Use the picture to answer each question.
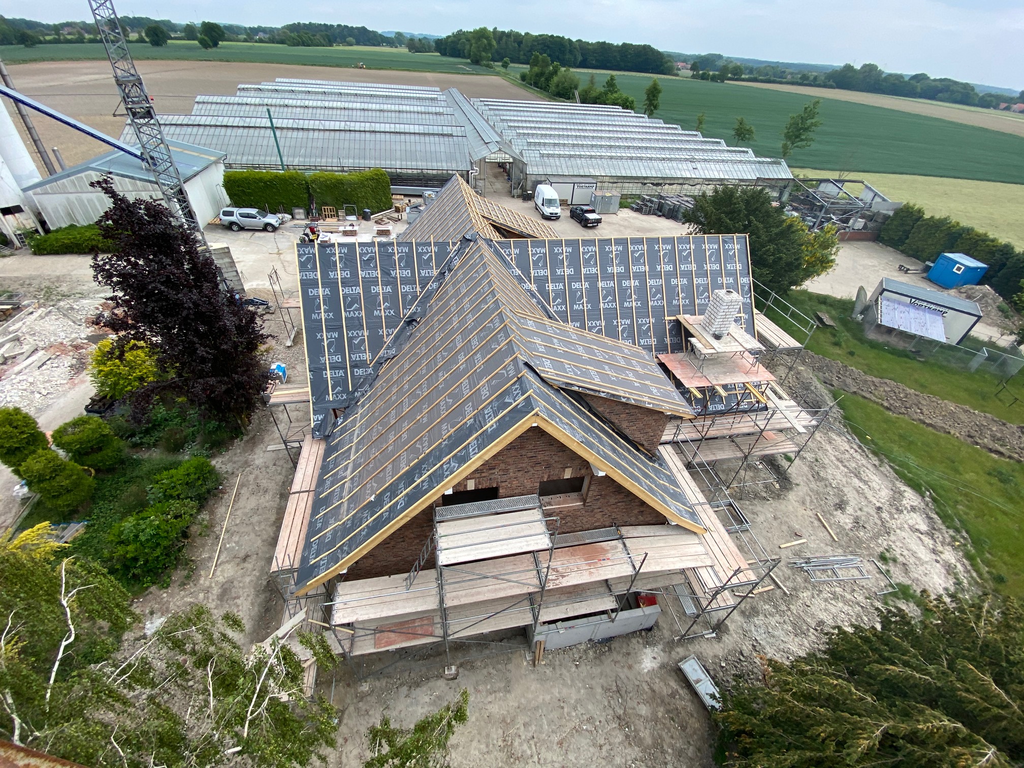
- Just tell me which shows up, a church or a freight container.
freight container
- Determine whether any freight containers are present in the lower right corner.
No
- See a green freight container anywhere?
No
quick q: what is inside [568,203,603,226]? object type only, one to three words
truck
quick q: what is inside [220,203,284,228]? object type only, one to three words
truck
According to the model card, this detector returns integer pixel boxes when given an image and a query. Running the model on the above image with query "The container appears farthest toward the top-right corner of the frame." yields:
[862,278,985,355]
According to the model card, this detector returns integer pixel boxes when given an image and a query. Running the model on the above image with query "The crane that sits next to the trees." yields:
[86,0,261,296]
